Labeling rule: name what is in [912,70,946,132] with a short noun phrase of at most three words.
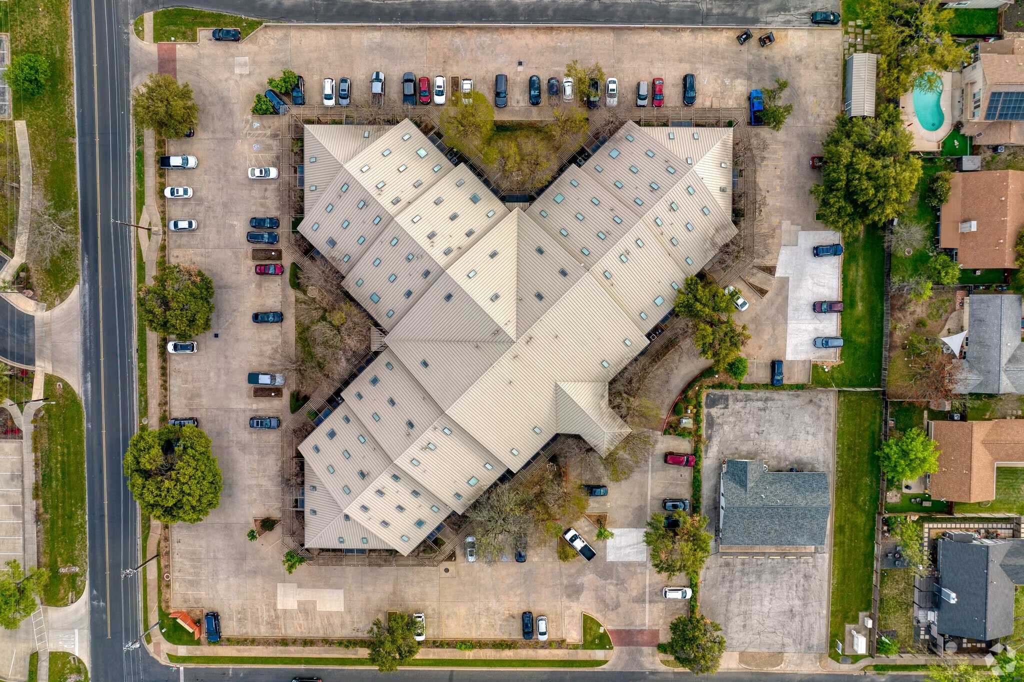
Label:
swimming pool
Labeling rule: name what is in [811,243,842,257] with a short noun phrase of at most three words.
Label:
car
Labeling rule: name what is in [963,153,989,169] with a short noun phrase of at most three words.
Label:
shed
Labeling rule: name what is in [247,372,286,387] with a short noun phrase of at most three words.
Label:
vehicle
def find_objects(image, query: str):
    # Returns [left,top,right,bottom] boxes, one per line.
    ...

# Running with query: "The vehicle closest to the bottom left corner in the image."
[204,610,221,642]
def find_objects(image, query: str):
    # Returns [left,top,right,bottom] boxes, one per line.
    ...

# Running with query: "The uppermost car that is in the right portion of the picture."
[809,10,839,26]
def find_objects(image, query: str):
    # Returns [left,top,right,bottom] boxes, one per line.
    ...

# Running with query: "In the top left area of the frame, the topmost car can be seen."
[213,27,243,43]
